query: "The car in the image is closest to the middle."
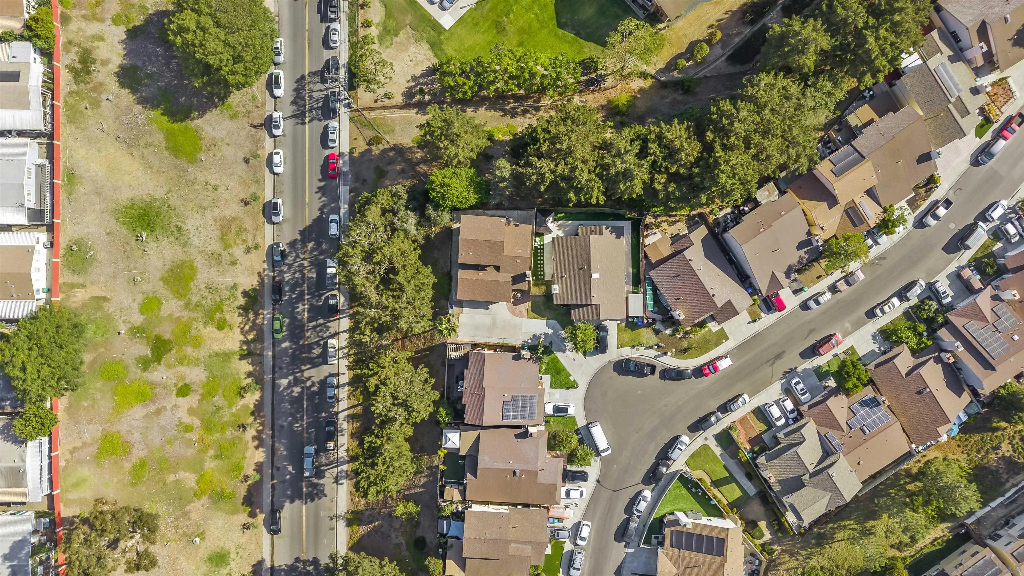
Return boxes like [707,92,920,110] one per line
[597,324,611,354]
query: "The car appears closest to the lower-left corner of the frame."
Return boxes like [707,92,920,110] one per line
[269,508,282,536]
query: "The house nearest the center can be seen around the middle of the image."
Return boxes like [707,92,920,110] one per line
[457,215,532,302]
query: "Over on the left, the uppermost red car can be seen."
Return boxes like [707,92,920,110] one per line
[327,153,340,179]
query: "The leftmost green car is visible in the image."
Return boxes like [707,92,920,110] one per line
[272,313,285,340]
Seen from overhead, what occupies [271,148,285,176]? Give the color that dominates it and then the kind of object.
white car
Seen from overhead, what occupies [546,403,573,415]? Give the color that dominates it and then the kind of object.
white vehicle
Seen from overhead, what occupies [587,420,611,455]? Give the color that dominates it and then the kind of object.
white vehicle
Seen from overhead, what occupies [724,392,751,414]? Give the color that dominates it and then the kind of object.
gray car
